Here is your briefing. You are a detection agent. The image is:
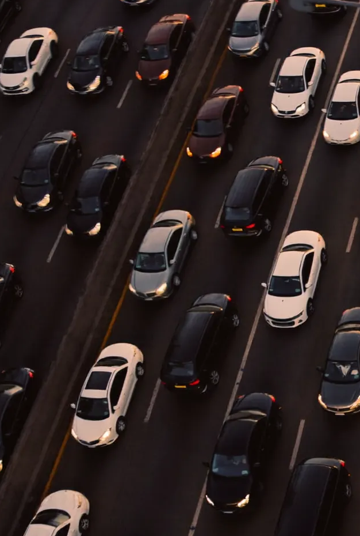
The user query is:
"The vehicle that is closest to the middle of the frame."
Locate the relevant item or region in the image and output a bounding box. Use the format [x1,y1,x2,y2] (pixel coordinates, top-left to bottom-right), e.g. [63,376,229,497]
[130,212,198,301]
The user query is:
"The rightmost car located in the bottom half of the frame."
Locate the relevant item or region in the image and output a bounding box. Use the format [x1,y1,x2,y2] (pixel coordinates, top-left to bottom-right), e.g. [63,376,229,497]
[316,310,360,415]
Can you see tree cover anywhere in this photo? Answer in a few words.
No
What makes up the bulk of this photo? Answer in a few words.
paved ground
